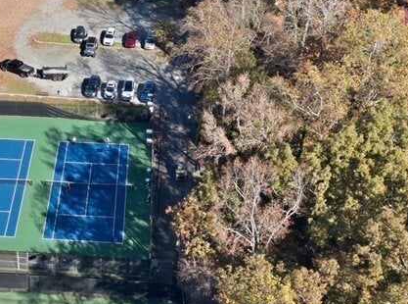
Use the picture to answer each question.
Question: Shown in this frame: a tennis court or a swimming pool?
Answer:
tennis court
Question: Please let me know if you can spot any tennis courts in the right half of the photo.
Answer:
No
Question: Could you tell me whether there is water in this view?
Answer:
No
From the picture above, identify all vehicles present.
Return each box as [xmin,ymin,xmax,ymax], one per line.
[74,26,87,42]
[85,38,99,56]
[121,80,135,100]
[144,36,156,49]
[125,31,138,48]
[104,29,118,45]
[142,83,156,102]
[84,77,100,98]
[104,83,118,99]
[0,61,32,78]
